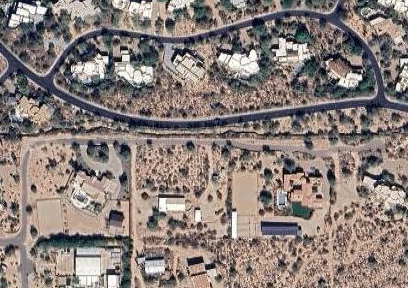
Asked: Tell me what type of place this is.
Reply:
residential area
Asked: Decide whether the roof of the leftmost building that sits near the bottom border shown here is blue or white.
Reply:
white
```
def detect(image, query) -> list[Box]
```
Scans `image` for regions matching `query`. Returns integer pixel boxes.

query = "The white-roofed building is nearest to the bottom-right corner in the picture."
[361,174,408,210]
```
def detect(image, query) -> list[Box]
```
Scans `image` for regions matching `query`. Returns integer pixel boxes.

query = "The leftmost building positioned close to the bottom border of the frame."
[75,249,101,286]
